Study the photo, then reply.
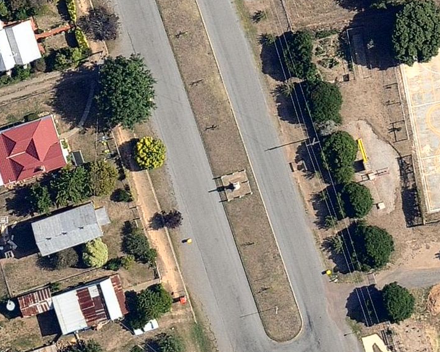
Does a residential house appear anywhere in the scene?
Yes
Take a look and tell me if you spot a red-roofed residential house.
Yes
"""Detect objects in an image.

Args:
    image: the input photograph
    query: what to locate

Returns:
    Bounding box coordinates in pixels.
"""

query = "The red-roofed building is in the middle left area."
[0,116,68,185]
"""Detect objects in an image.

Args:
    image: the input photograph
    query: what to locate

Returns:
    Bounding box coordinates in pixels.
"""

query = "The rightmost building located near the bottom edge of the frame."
[52,276,129,335]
